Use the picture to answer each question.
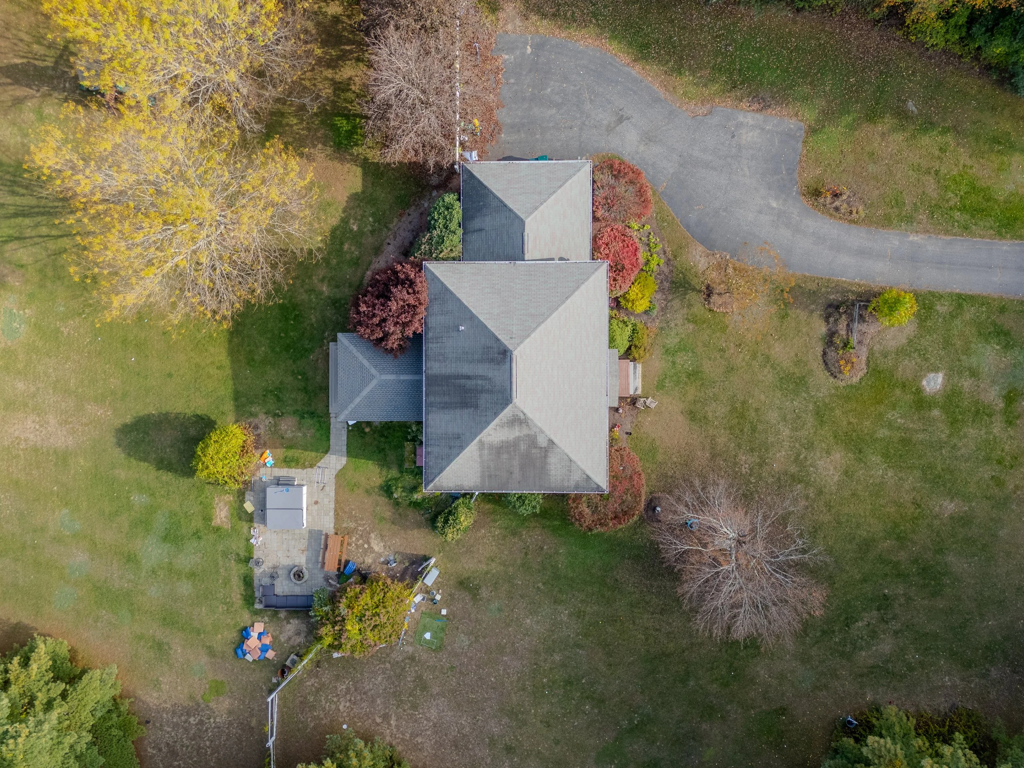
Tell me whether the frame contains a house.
Yes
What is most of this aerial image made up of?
grass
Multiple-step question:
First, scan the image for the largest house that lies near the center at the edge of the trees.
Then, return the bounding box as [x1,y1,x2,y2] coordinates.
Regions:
[329,161,642,504]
